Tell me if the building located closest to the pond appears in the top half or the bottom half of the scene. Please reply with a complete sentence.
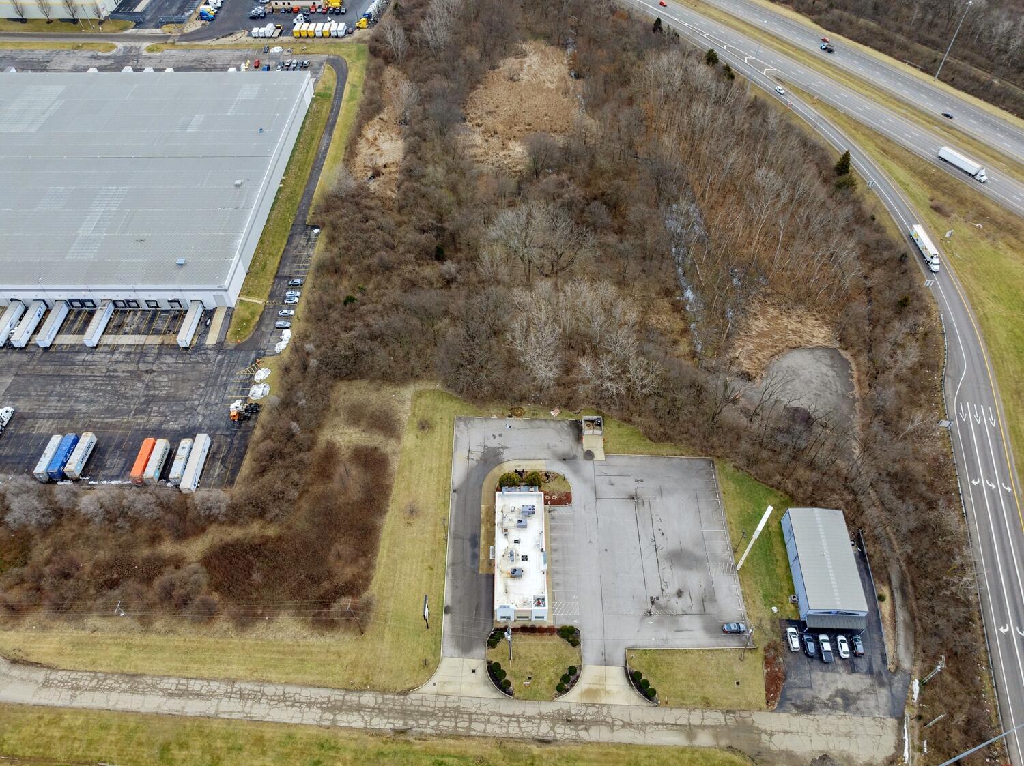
The building located closest to the pond is in the bottom half of the image.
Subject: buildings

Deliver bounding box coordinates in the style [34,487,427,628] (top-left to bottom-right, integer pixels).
[0,0,117,18]
[270,0,324,8]
[0,74,313,308]
[783,507,869,637]
[491,484,552,622]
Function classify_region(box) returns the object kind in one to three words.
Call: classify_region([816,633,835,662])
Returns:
vehicle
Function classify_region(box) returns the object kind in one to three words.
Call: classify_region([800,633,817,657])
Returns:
car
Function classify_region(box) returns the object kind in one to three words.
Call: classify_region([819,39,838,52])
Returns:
vehicle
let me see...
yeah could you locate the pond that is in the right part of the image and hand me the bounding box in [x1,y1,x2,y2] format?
[736,347,857,458]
